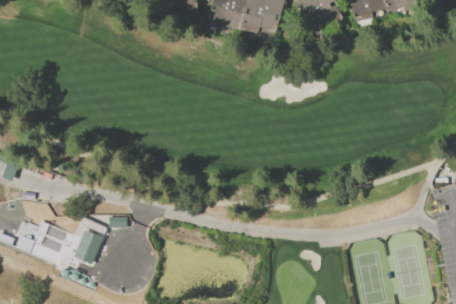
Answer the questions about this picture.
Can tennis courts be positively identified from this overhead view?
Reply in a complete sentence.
Yes, looking at the shot, I can spot a tennis court.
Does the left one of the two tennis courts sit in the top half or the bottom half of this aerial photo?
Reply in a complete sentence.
It is in the bottom half that the left one of the two tennis courts appears.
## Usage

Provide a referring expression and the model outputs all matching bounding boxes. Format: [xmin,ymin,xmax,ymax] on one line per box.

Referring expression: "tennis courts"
[388,232,434,304]
[350,240,396,304]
